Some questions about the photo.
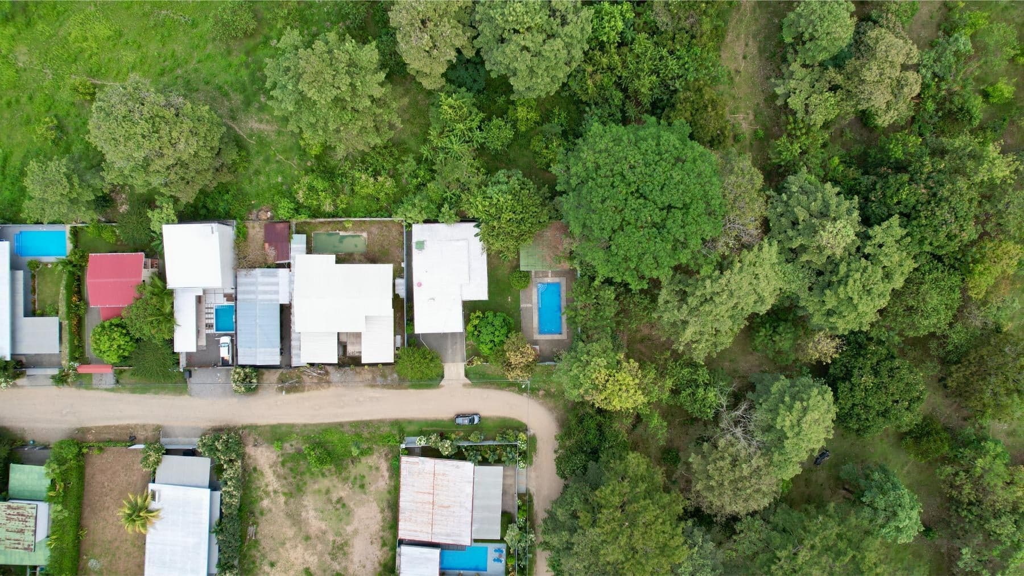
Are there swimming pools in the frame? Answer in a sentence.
Yes, there's a swimming pool here.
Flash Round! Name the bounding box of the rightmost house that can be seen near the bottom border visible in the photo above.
[398,455,503,576]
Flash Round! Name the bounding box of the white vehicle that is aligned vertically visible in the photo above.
[219,335,233,365]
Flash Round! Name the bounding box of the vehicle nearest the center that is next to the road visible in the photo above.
[455,413,480,426]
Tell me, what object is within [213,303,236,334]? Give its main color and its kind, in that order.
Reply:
blue swimming pool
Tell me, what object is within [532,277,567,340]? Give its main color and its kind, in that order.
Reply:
blue swimming pool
